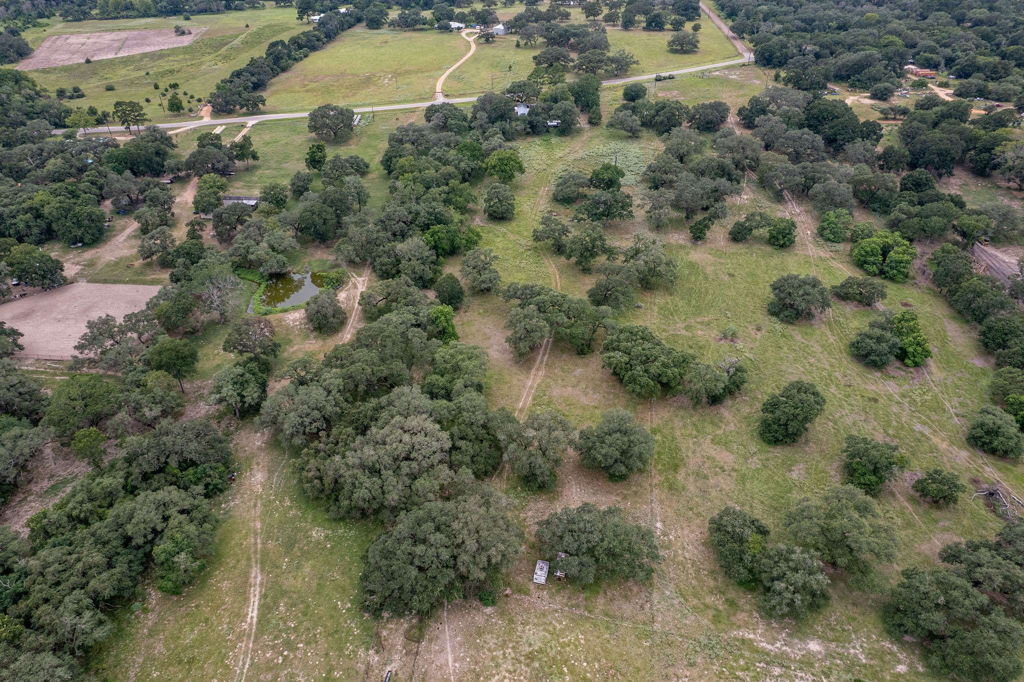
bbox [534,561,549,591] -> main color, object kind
white vehicle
